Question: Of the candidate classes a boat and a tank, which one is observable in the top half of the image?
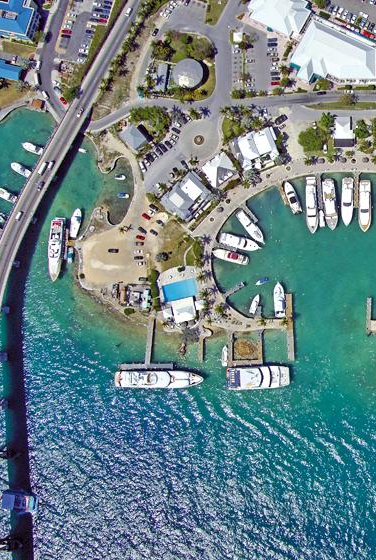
boat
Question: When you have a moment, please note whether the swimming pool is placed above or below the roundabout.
below it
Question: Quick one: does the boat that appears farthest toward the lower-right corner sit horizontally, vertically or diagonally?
horizontally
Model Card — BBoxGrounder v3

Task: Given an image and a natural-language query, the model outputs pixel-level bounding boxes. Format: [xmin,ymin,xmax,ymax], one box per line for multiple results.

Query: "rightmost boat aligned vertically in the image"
[359,180,372,231]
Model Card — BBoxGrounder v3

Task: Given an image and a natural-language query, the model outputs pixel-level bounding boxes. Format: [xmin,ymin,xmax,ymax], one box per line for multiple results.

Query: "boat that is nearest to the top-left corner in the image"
[22,143,44,157]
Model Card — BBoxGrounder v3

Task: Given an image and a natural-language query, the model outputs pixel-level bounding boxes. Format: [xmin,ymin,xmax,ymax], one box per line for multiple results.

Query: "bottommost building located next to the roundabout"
[164,173,217,222]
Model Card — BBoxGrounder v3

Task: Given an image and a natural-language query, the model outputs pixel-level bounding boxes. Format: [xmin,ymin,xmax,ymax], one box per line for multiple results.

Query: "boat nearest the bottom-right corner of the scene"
[227,366,290,389]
